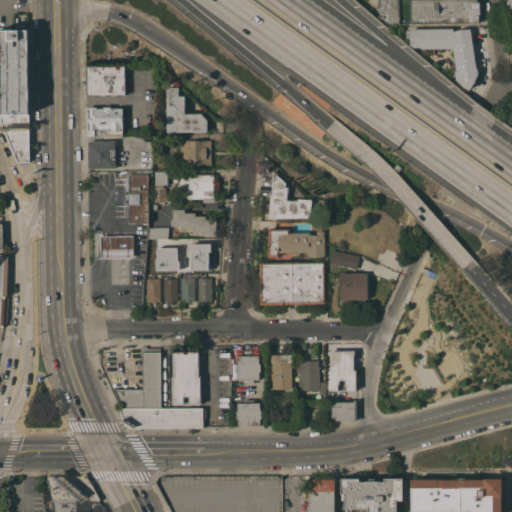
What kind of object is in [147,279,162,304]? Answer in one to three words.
house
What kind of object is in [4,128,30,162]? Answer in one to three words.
building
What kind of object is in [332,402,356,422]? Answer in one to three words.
building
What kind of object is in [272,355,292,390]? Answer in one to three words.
house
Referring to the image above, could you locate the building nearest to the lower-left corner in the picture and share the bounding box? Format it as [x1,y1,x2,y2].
[50,478,88,512]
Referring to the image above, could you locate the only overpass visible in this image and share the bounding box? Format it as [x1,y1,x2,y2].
[326,118,474,272]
